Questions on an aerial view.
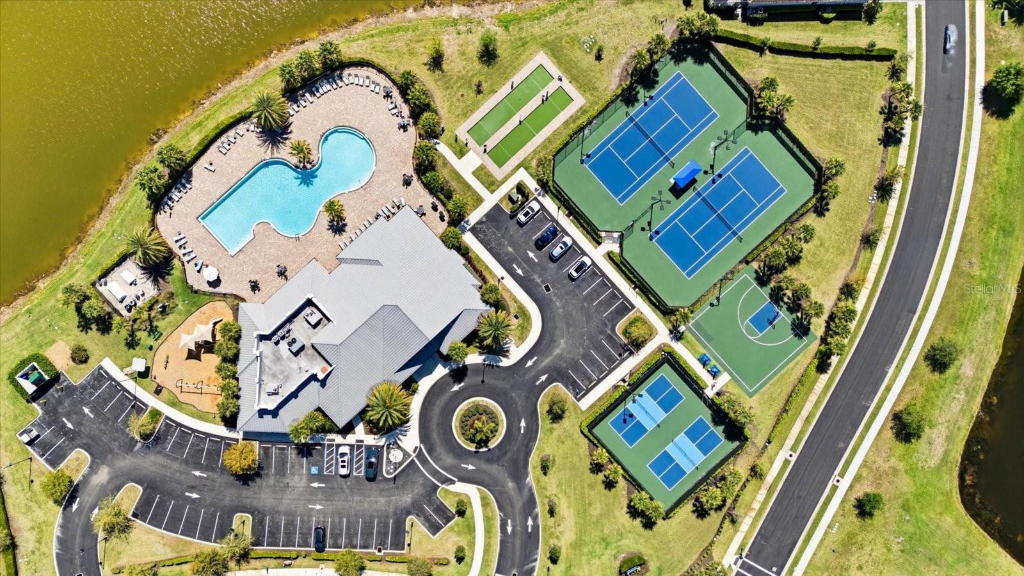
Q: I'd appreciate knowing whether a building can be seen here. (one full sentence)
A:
Yes, the picture does show a building.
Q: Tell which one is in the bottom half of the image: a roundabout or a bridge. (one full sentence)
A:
Looking in the bottom half of the image, you will find a roundabout.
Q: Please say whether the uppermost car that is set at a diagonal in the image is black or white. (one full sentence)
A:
In this view, the uppermost car that is set at a diagonal is white.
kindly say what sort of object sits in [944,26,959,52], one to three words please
car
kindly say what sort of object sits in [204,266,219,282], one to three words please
umbrella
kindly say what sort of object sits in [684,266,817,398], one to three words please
basketball court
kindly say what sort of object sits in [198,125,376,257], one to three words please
swimming pool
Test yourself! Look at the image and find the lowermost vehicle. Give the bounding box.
[313,525,327,552]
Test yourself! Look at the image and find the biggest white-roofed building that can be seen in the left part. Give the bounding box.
[238,204,493,432]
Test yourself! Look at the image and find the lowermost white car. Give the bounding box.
[338,446,351,474]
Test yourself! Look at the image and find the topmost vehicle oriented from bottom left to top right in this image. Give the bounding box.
[516,201,541,224]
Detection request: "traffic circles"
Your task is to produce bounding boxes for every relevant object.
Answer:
[452,397,506,451]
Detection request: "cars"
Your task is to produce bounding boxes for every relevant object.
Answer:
[568,256,593,279]
[365,449,378,478]
[313,525,327,552]
[944,26,959,52]
[549,238,573,262]
[534,226,558,250]
[338,446,351,474]
[516,201,541,224]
